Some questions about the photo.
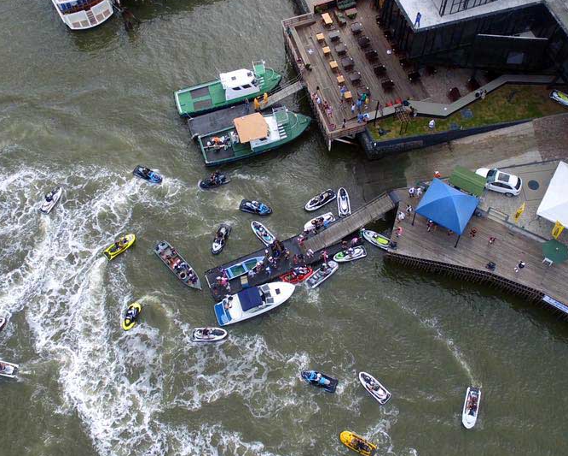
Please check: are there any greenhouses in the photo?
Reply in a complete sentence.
No, no greenhouse is visible in the view.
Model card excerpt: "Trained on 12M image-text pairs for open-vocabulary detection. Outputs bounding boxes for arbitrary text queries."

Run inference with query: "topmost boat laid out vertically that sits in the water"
[337,187,350,216]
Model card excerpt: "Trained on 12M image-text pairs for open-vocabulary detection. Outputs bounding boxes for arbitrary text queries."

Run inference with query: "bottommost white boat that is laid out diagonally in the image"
[360,373,393,406]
